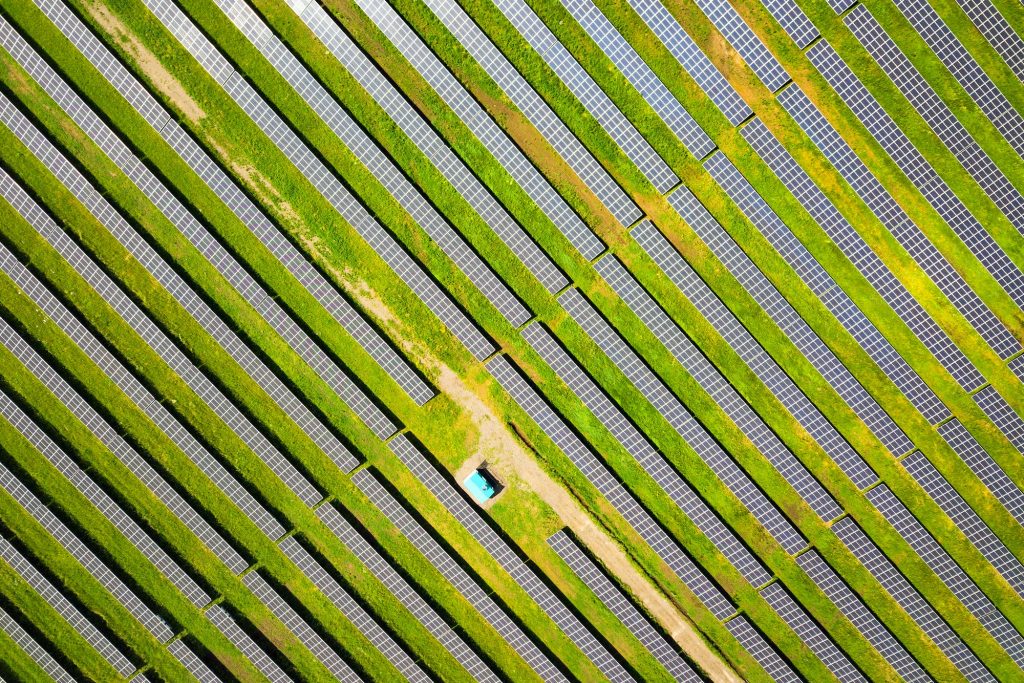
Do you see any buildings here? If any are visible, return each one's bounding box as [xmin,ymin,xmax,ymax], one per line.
[462,460,495,503]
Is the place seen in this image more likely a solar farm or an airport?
solar farm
